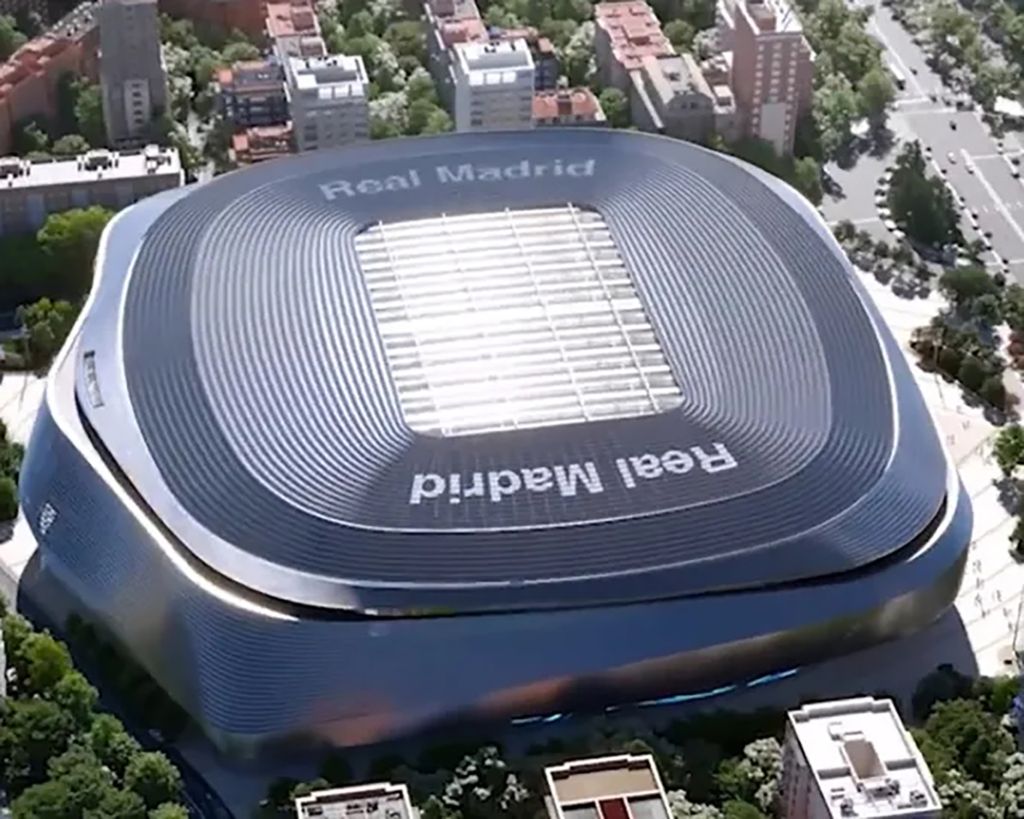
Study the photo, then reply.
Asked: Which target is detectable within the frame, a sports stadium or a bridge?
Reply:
sports stadium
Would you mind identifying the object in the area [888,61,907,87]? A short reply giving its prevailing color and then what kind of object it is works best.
white vehicle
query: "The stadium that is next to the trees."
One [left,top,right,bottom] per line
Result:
[17,127,977,753]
